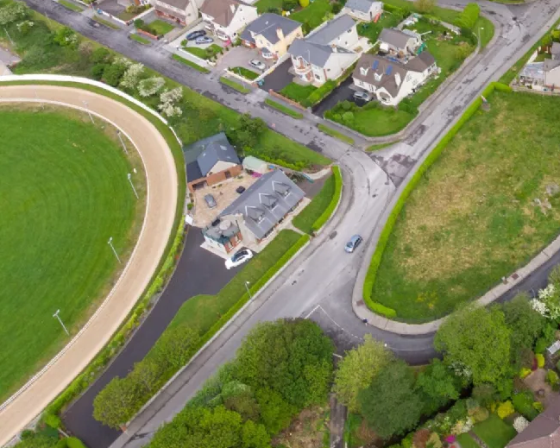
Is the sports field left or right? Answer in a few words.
left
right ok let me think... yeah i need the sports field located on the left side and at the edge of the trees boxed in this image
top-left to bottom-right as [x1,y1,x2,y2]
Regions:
[0,108,135,392]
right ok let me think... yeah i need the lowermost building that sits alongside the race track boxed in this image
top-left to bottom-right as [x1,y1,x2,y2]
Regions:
[204,172,305,256]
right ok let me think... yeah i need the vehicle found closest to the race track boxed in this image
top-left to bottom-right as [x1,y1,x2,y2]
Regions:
[201,191,218,212]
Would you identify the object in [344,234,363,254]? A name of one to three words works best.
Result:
car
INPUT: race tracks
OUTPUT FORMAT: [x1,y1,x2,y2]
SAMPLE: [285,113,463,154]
[0,85,176,446]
